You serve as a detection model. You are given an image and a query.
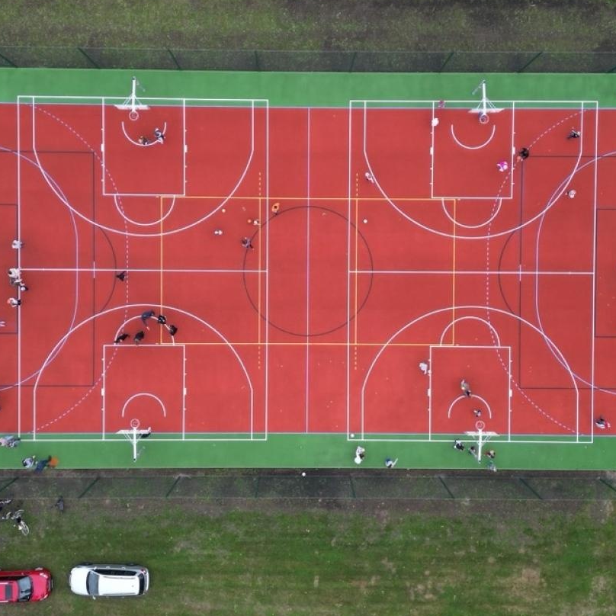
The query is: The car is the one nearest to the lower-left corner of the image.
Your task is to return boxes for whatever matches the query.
[0,568,54,605]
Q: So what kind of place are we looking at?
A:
sports ground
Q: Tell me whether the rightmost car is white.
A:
Yes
